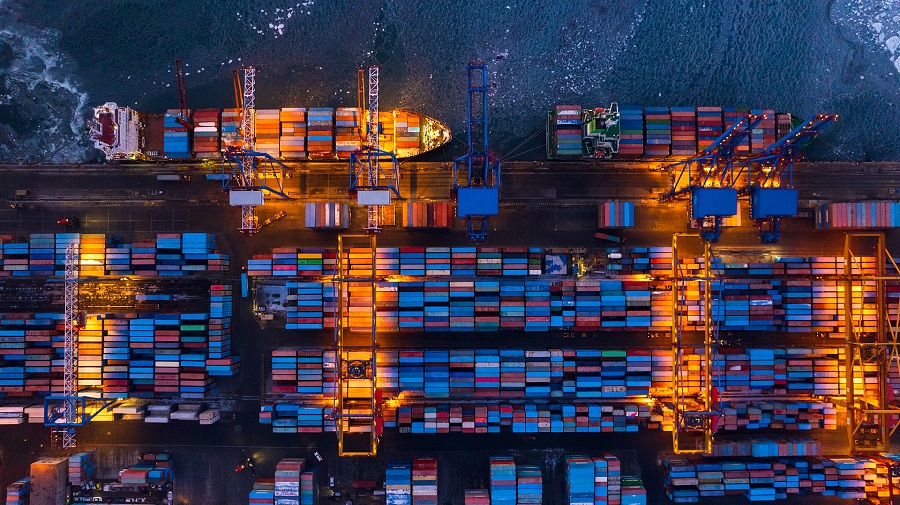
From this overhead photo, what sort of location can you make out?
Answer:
port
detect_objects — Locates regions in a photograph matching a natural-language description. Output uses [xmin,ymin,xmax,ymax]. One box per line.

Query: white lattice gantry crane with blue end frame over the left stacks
[41,244,123,448]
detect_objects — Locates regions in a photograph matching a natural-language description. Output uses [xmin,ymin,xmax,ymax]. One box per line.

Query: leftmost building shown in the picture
[28,458,70,505]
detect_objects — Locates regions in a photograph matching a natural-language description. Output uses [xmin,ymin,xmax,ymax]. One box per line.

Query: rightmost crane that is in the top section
[713,121,840,248]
